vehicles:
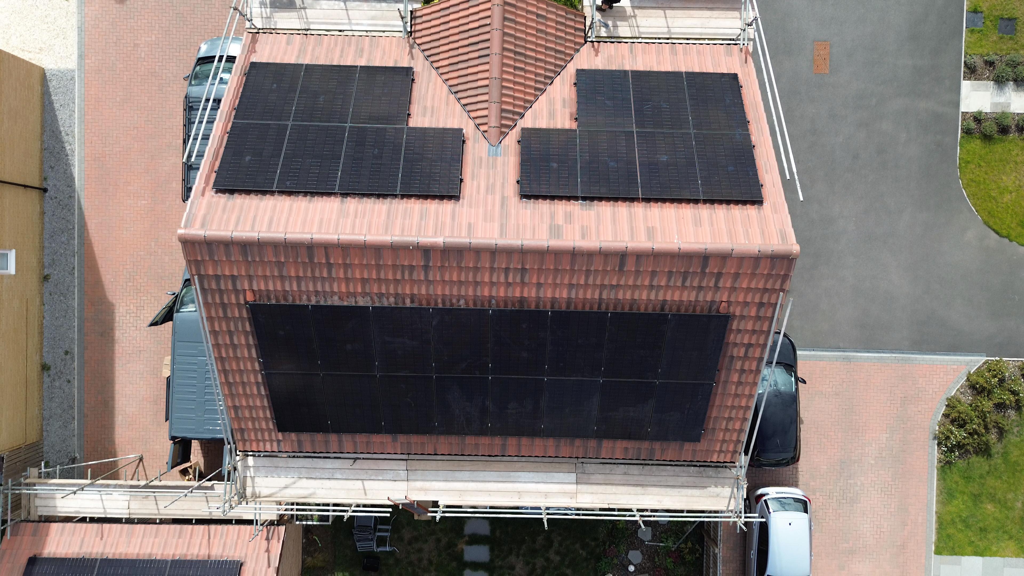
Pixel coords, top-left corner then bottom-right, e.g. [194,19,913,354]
[740,328,809,470]
[176,38,239,217]
[147,263,239,484]
[741,483,812,576]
